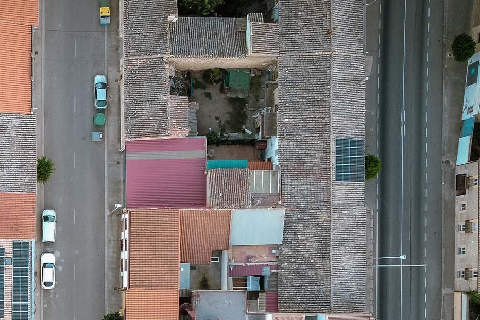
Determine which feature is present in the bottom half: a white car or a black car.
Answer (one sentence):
The feature located in the bottom half is a white car.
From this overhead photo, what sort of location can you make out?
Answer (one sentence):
This image shows a residential area.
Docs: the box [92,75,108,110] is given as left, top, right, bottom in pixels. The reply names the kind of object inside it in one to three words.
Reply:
car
